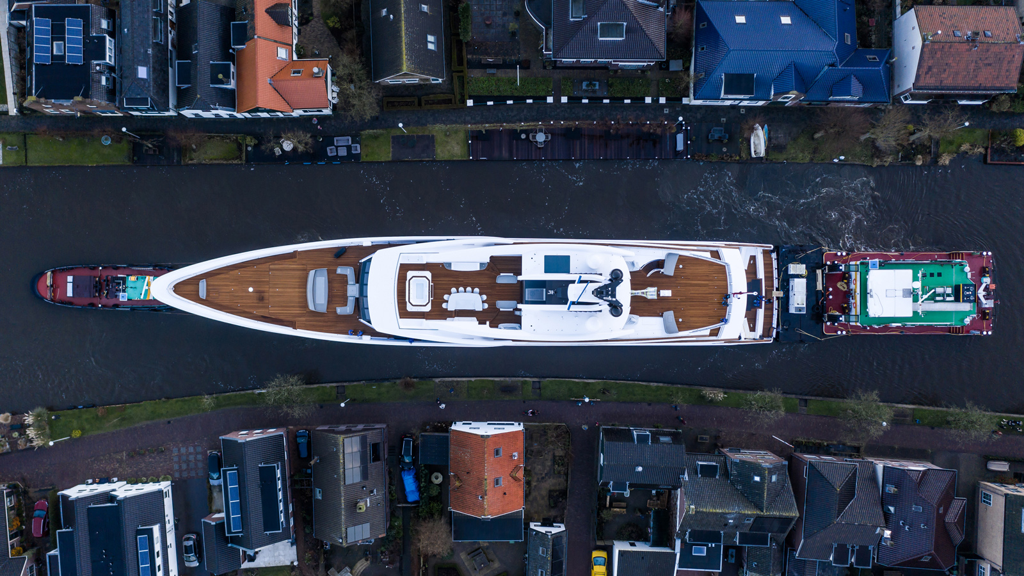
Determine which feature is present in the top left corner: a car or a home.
home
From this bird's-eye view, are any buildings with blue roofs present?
Yes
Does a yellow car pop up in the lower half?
Yes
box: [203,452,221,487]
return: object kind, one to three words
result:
car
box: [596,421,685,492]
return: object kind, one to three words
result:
house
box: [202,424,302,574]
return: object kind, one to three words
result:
house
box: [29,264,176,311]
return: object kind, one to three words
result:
boat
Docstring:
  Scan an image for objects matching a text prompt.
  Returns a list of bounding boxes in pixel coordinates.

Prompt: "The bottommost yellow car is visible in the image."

[590,547,610,576]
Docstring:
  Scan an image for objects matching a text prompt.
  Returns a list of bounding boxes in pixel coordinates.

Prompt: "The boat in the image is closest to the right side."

[821,251,1000,335]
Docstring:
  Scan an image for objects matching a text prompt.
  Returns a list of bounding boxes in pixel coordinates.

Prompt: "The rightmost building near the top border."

[894,6,1024,101]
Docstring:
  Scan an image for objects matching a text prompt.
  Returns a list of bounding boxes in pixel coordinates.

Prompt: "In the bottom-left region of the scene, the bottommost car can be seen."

[179,534,199,570]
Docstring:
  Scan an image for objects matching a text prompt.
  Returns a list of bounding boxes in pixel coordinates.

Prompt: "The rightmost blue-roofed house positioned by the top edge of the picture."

[687,0,893,110]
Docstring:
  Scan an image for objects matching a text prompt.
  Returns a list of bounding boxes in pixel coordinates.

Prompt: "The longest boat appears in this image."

[150,236,778,346]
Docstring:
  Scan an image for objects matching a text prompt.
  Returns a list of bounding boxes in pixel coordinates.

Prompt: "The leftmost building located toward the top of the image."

[8,0,135,114]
